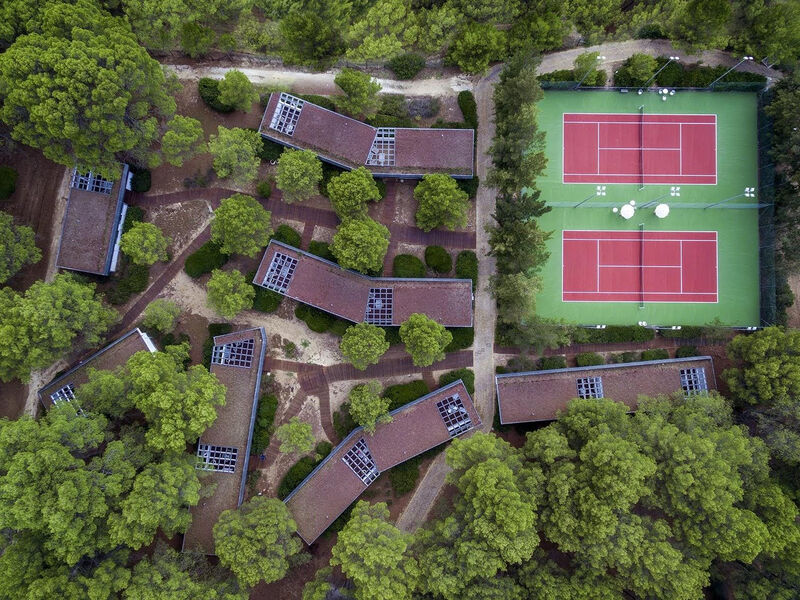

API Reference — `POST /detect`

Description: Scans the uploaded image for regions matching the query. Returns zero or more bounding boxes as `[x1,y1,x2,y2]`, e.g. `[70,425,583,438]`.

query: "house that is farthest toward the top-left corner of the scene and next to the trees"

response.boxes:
[55,163,130,276]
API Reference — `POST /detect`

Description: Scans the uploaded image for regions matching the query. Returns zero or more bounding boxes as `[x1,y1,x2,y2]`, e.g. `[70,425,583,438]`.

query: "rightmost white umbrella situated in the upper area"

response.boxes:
[653,204,668,218]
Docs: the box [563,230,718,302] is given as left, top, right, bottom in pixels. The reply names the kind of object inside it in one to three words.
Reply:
tennis court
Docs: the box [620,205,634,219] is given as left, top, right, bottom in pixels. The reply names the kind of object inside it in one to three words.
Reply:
umbrella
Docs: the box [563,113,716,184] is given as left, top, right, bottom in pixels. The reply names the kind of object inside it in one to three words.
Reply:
tennis court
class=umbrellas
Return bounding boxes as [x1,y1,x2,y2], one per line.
[620,205,634,219]
[653,204,668,218]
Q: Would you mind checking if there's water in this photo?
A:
No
